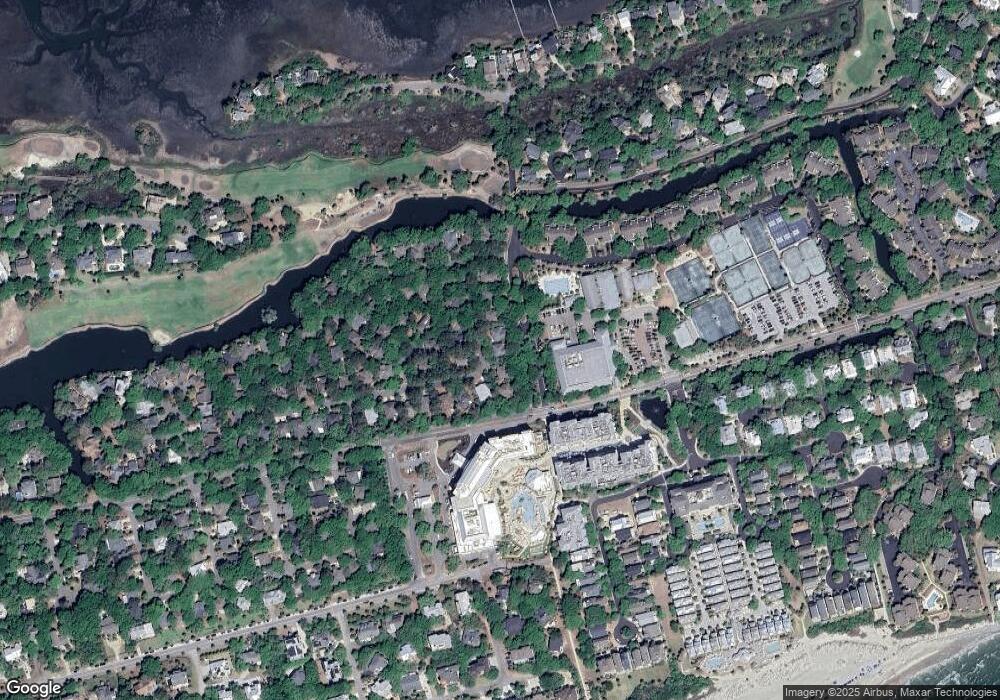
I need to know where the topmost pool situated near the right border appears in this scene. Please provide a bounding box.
[955,208,979,231]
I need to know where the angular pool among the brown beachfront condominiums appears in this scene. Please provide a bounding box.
[921,589,945,611]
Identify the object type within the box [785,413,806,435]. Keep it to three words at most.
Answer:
house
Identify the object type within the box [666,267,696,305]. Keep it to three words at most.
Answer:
tennis court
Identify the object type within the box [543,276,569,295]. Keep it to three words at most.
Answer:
swimming pool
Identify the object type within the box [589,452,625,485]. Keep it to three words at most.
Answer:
building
